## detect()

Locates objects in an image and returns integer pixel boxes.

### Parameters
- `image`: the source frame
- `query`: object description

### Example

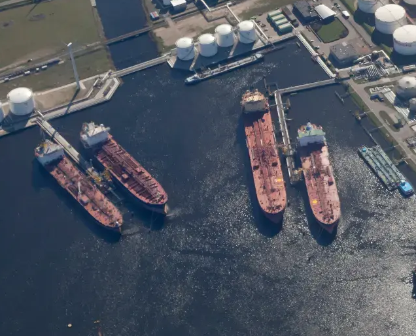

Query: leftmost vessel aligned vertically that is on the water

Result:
[239,87,286,224]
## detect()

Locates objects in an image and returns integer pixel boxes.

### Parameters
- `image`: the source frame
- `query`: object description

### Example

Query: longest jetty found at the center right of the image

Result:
[273,76,338,190]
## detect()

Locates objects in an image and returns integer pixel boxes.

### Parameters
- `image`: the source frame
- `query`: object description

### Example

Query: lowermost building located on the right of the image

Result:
[328,41,358,68]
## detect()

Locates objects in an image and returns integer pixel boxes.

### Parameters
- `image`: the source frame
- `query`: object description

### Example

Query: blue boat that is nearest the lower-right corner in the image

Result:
[397,179,416,200]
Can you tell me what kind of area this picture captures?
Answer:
industrial area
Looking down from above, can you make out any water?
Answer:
Yes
